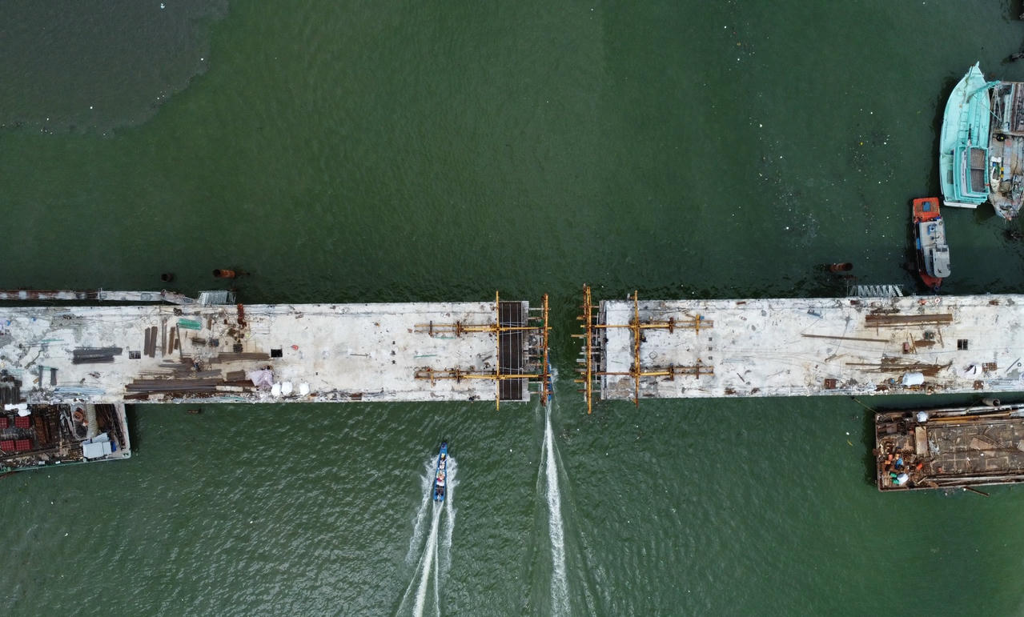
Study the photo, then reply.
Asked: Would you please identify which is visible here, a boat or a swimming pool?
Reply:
boat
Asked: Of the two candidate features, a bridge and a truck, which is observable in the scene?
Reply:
bridge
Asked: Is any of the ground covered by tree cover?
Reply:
No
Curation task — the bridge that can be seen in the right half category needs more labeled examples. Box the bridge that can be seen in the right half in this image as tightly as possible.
[600,294,1024,399]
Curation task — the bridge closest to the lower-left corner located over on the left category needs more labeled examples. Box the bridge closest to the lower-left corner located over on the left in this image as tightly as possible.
[0,301,529,404]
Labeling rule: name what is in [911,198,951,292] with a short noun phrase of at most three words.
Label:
boat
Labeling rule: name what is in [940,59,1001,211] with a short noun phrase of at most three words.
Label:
boat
